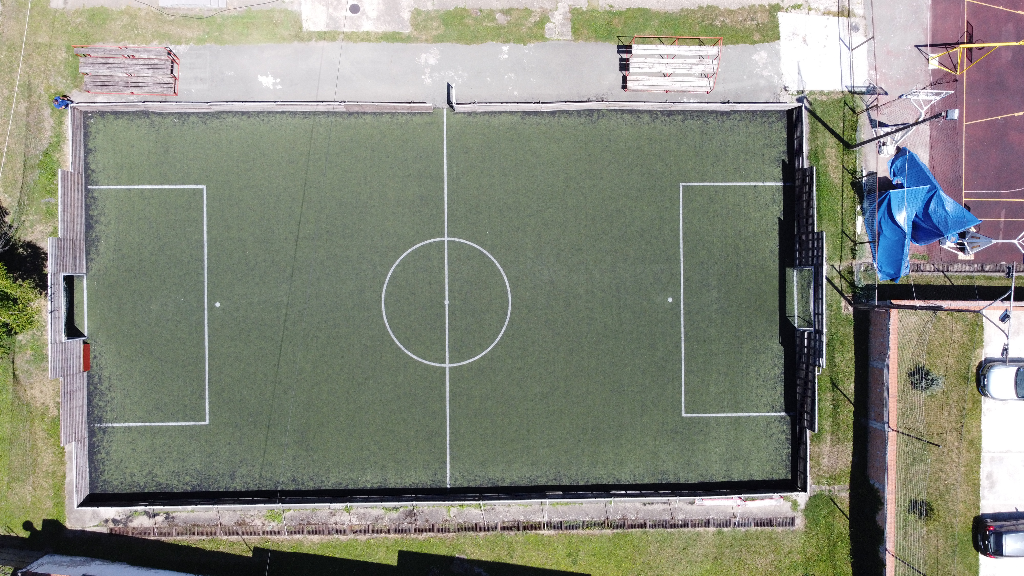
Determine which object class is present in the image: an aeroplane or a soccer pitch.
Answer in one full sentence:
There is a soccer pitch in the scene.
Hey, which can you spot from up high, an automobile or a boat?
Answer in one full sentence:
It is an automobile that can be seen here.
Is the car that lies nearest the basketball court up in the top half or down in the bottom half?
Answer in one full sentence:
You can find the car that lies nearest the basketball court in the bottom half.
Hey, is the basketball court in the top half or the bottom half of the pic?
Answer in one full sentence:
You can find the basketball court in the top half.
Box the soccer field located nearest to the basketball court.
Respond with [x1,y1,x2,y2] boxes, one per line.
[64,109,818,502]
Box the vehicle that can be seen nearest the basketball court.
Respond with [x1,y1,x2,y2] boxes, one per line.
[976,359,1024,403]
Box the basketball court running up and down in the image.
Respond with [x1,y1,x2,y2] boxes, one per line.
[930,0,1024,264]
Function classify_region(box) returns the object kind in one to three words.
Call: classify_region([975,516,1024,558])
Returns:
car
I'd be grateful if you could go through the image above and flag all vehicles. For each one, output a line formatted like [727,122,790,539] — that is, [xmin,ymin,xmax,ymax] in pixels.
[975,516,1024,558]
[976,359,1024,403]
